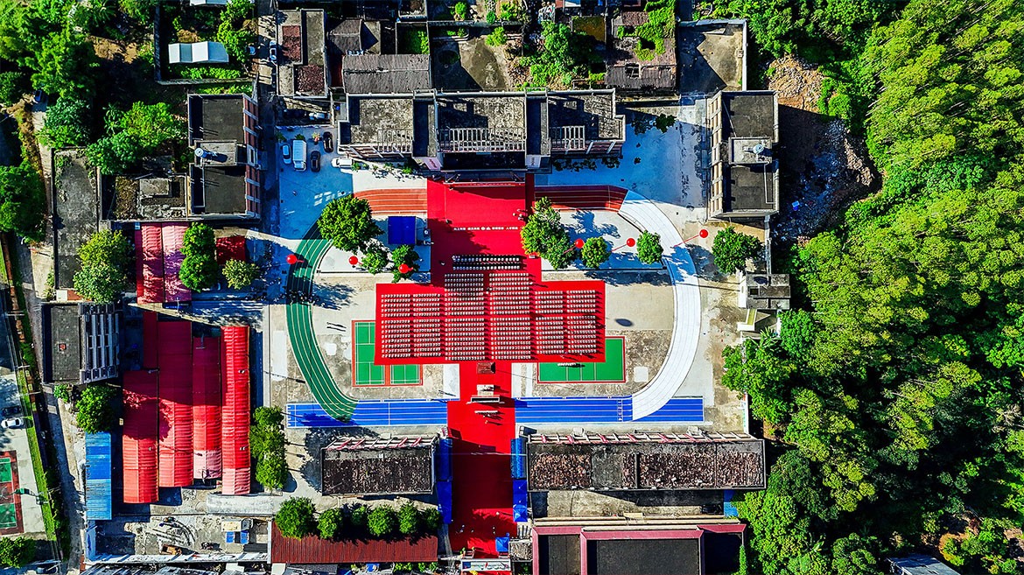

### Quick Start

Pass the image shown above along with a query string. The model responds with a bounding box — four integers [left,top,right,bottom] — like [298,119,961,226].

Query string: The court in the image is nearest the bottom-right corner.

[537,336,626,383]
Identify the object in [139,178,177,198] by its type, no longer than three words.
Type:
shed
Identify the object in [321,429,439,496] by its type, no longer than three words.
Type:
building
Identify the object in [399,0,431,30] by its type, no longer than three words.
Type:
house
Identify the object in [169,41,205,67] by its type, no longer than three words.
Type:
shed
